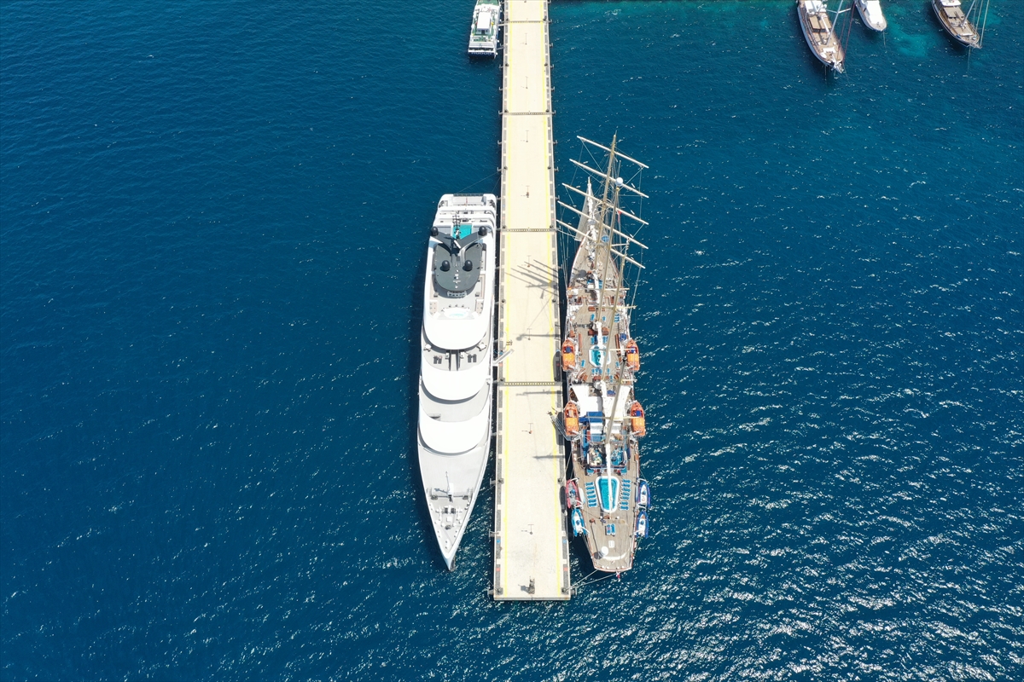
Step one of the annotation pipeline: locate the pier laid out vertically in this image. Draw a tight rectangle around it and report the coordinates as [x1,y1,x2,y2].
[494,0,570,600]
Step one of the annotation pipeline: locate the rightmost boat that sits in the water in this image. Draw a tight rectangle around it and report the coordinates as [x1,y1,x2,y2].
[926,0,996,61]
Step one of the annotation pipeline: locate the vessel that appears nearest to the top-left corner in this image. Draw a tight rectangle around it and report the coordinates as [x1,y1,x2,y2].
[469,0,499,61]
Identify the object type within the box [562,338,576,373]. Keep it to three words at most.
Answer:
boat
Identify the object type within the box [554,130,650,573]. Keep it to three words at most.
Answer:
ship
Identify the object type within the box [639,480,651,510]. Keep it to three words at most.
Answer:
boat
